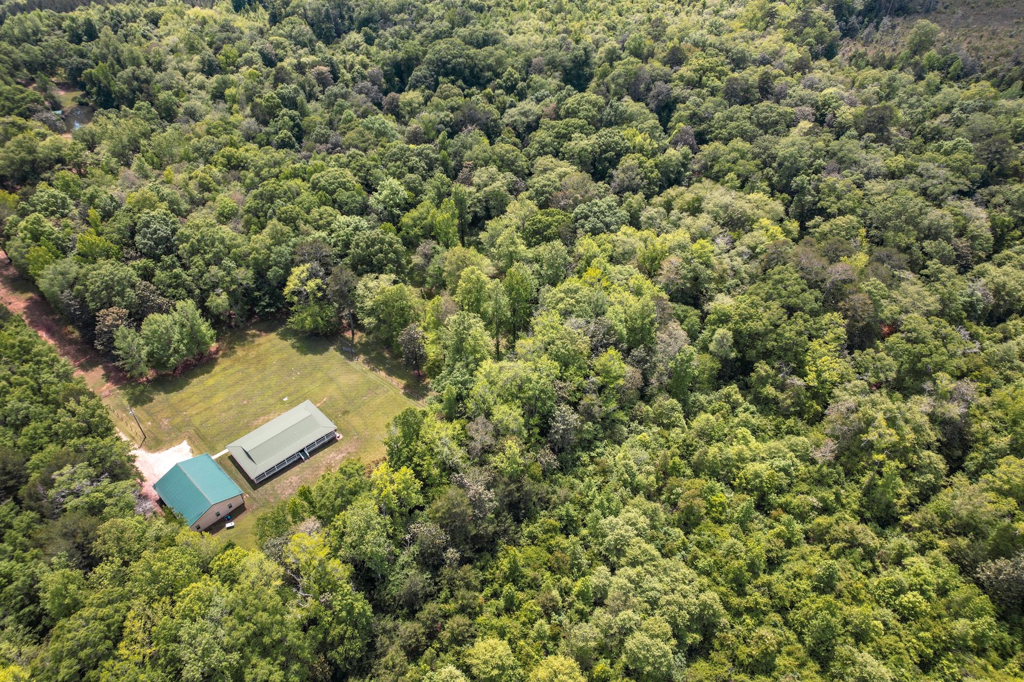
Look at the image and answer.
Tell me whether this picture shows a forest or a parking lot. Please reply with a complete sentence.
What you see here is a forest.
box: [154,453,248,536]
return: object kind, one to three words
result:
barn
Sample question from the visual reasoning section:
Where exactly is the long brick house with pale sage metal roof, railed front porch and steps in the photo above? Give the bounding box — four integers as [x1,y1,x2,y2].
[226,399,337,485]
